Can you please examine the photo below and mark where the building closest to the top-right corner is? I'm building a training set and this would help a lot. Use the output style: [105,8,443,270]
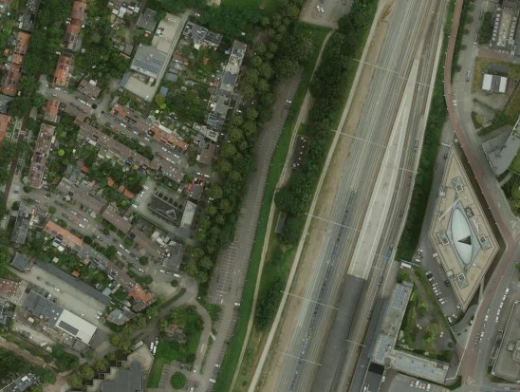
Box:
[490,4,520,55]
